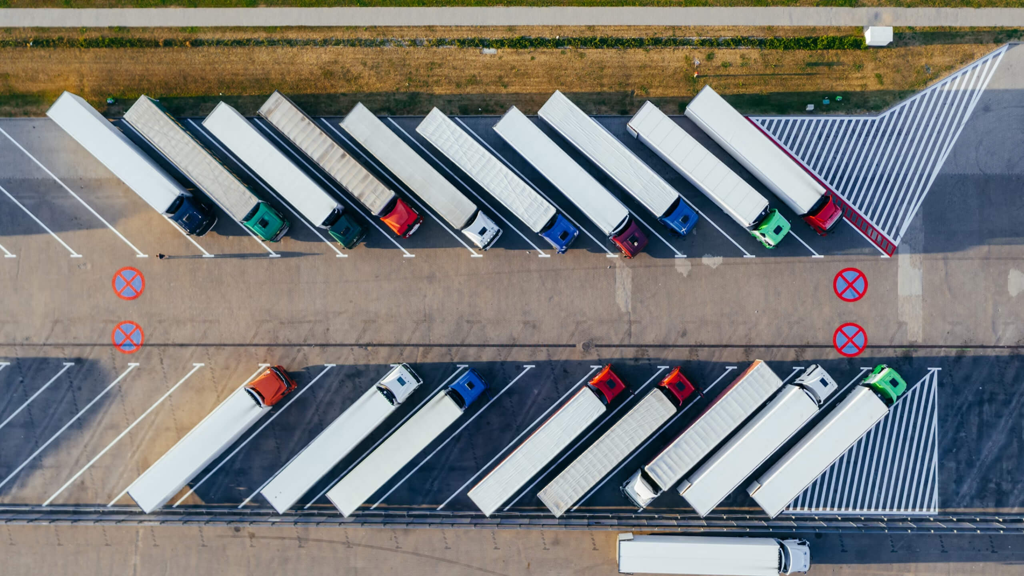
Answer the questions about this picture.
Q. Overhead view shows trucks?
Yes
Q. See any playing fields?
No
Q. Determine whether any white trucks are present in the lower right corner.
Yes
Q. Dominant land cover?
paved ground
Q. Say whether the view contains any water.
No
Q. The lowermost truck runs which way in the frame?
from side to side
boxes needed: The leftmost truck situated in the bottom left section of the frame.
[127,362,300,513]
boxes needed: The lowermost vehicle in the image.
[619,532,811,575]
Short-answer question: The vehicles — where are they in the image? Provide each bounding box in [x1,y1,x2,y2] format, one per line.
[627,100,793,250]
[416,107,584,258]
[746,363,911,518]
[468,361,632,516]
[46,91,220,239]
[123,94,295,247]
[339,102,507,255]
[327,365,493,517]
[537,363,701,517]
[257,90,425,241]
[493,106,655,260]
[538,90,704,242]
[202,101,370,251]
[619,532,811,575]
[127,362,300,513]
[685,85,849,239]
[618,359,783,510]
[261,359,426,514]
[678,361,842,517]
